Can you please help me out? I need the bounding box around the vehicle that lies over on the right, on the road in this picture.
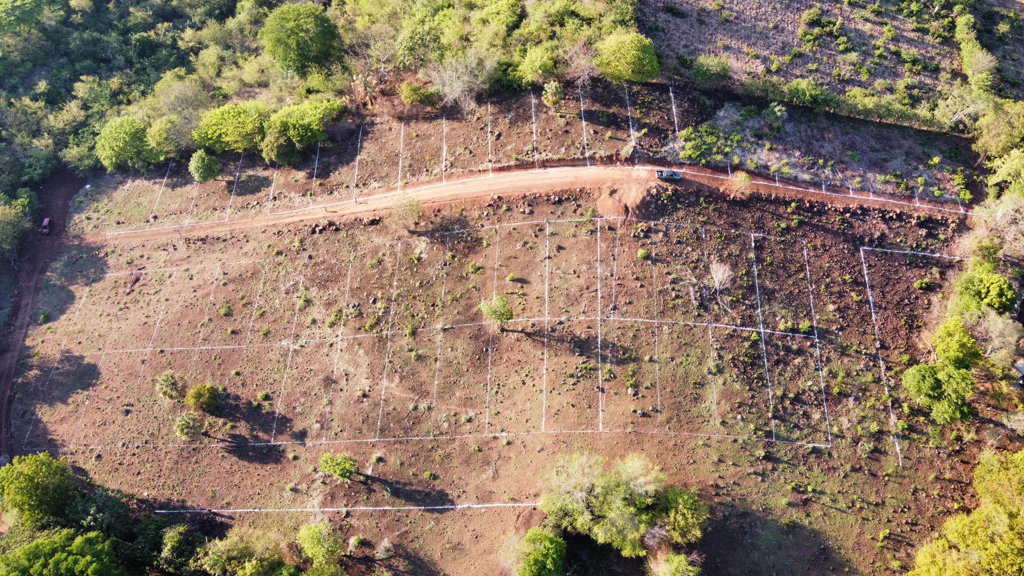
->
[654,170,682,182]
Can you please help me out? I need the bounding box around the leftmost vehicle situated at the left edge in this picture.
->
[39,217,53,235]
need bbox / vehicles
[654,170,682,182]
[39,217,53,235]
